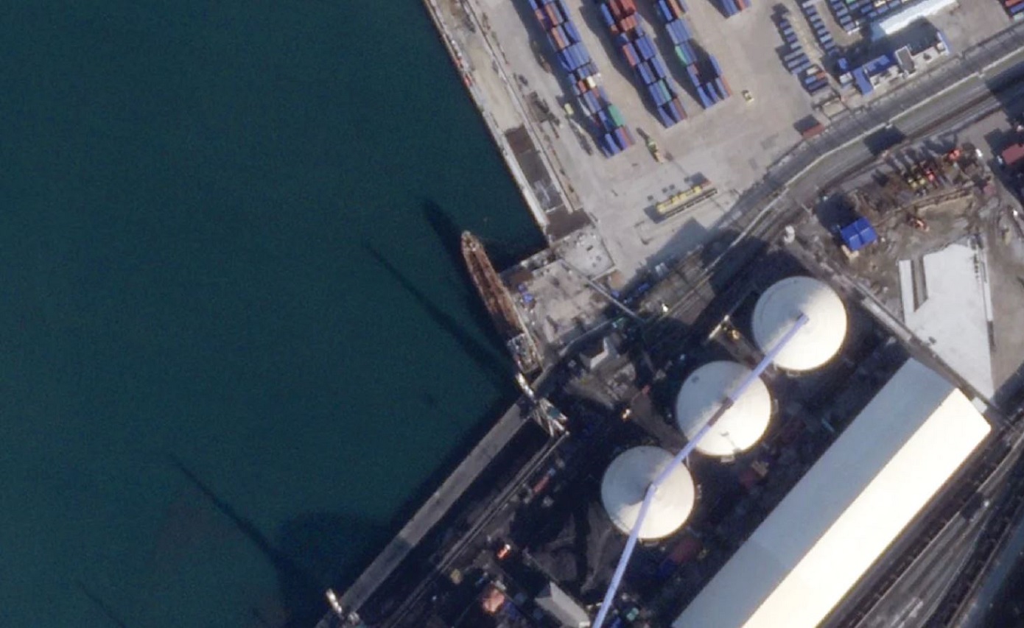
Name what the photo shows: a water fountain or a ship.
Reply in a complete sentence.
Visible in the photo is a ship.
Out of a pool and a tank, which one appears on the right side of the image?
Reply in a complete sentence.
Visible on the right side of the image is a tank.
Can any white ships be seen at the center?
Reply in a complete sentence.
No, at the center there is no white ship.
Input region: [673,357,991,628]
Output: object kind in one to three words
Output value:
warehouse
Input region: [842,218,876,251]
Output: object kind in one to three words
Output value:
house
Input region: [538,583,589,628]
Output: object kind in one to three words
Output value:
shed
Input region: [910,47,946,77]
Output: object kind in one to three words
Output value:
building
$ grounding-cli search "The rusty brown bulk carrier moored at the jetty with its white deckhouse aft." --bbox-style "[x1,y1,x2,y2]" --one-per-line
[465,230,549,379]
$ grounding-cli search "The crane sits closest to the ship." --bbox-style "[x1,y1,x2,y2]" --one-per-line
[511,374,574,442]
